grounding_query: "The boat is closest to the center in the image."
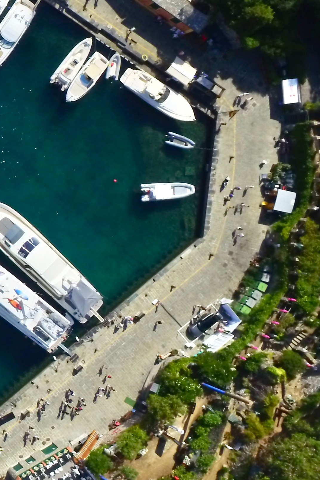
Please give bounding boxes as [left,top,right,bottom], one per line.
[137,182,195,199]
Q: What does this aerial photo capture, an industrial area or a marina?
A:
marina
